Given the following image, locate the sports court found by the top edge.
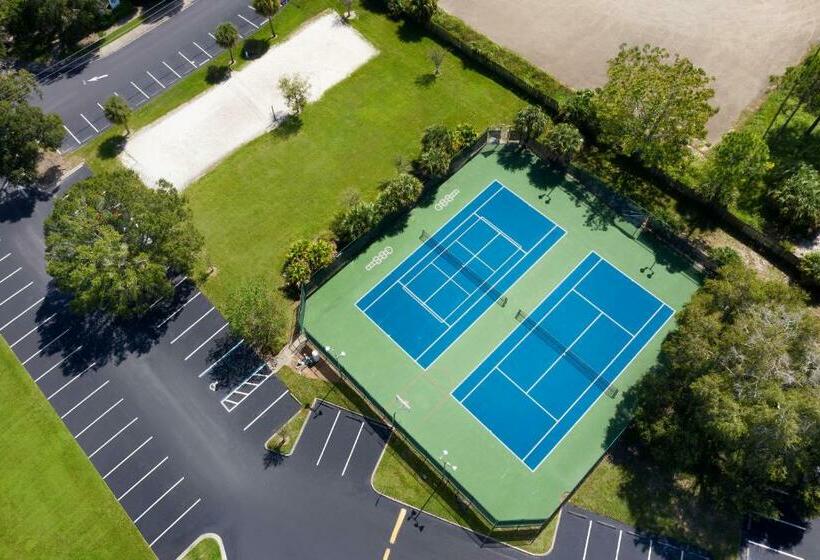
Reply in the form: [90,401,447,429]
[113,6,380,192]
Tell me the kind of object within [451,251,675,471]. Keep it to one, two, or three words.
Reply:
tennis court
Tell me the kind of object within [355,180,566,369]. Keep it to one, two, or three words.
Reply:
tennis court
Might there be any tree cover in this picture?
Yes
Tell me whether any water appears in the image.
No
